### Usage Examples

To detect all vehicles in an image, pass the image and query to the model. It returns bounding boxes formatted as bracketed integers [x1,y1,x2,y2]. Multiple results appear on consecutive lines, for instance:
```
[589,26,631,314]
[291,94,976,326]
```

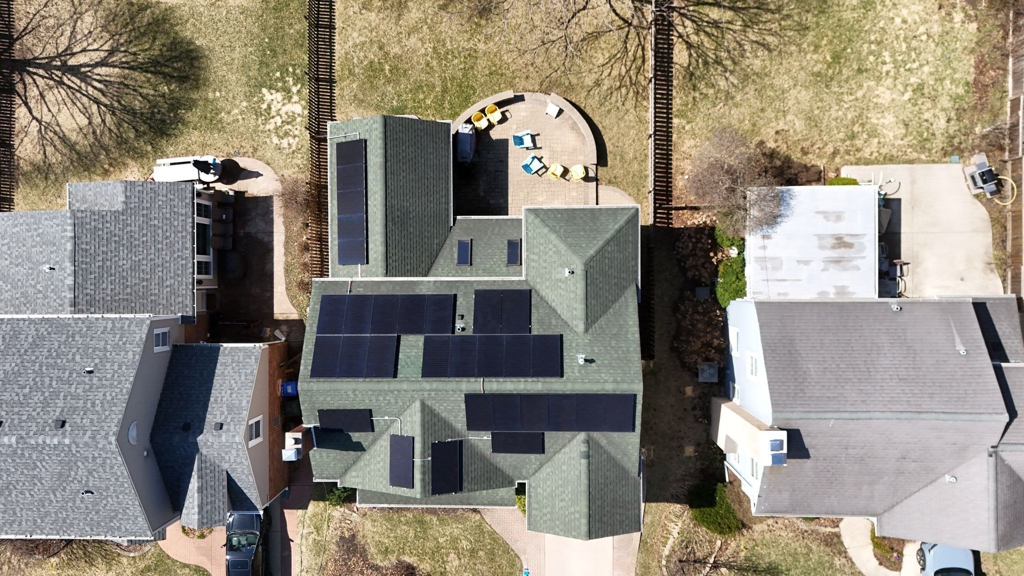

[918,543,973,576]
[218,508,273,576]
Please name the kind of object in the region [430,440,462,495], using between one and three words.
solar panel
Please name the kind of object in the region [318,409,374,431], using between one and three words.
solar panel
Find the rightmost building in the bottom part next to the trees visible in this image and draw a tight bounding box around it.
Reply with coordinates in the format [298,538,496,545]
[709,159,1024,552]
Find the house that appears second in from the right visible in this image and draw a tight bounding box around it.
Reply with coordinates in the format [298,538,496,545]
[282,115,645,540]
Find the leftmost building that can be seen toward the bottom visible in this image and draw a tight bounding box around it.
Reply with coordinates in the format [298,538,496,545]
[0,180,290,543]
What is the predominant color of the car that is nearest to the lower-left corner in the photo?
black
